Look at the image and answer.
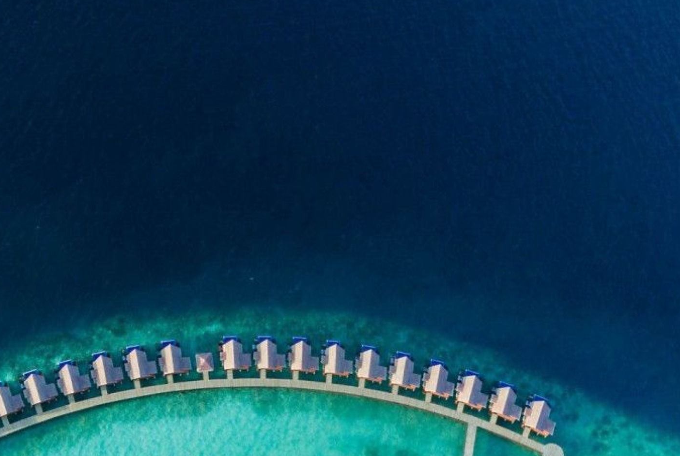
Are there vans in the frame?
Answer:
No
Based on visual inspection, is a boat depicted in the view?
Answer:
No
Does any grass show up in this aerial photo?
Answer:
No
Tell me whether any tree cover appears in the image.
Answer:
No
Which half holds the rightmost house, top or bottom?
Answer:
bottom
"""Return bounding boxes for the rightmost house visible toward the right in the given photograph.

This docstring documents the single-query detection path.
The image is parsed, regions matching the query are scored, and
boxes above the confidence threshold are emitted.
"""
[519,395,553,434]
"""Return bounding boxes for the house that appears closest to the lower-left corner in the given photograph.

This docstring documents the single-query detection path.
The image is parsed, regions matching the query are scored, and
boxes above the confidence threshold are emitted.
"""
[0,379,27,416]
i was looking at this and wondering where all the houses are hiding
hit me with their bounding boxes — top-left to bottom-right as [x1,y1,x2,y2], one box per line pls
[122,344,157,379]
[519,395,553,434]
[285,338,318,372]
[0,379,27,416]
[387,353,420,389]
[56,359,91,395]
[319,341,352,376]
[21,369,59,404]
[486,380,520,419]
[420,359,453,397]
[251,337,285,371]
[156,340,192,374]
[218,337,251,371]
[89,351,125,385]
[354,345,386,382]
[453,371,486,408]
